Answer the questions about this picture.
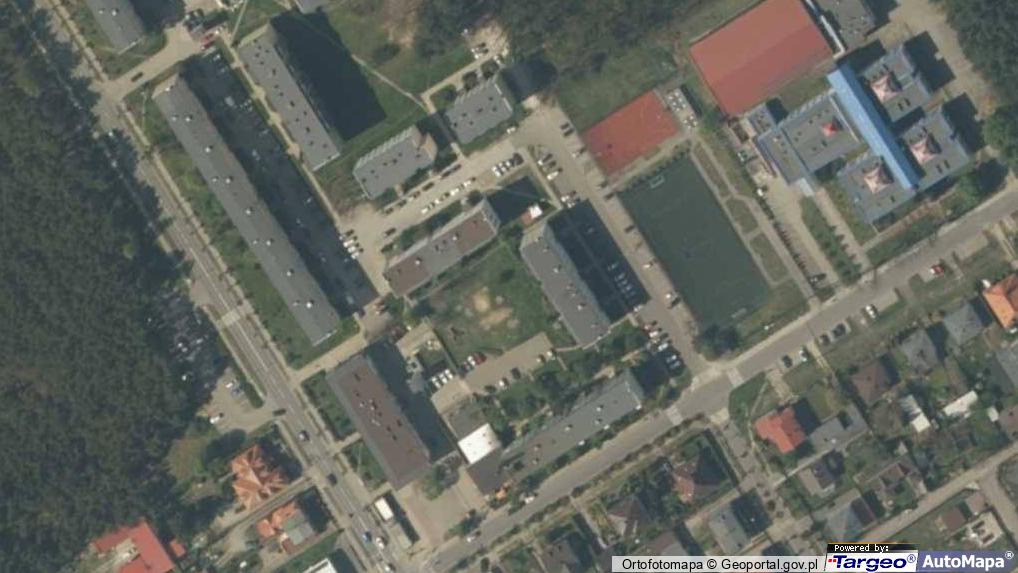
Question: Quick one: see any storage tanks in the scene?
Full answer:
No, there's no storage tank here.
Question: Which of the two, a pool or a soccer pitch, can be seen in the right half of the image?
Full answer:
Looking in the right half of the image, you will find a soccer pitch.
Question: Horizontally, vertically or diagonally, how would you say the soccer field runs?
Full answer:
What the image shows is the soccer field lying diagonally.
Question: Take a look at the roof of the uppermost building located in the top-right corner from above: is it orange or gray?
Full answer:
The roof of the uppermost building located in the top-right corner is gray.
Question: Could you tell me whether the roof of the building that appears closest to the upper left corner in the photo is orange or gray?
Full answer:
The roof of the building that appears closest to the upper left corner looks gray in the image.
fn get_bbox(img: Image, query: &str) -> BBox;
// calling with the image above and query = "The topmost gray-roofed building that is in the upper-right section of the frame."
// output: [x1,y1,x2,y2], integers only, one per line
[818,0,878,45]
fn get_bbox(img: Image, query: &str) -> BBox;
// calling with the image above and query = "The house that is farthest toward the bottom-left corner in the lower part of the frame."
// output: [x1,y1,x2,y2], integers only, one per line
[92,518,175,573]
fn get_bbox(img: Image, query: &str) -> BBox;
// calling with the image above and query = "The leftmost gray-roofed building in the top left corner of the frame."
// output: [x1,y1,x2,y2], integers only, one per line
[85,0,149,52]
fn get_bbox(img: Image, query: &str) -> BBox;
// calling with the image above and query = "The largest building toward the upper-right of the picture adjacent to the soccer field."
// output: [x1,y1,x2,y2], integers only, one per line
[749,40,972,222]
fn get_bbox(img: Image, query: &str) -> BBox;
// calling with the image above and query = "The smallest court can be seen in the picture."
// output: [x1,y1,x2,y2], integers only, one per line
[582,90,681,177]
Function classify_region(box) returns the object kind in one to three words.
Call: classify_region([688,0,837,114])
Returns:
sports court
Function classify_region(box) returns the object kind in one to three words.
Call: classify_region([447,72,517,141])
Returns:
building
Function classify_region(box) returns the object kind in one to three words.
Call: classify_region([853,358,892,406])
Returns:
house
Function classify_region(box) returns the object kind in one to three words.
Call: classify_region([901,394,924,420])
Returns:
shed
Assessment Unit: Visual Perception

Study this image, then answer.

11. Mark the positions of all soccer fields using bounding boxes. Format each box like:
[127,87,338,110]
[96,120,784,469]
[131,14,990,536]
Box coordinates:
[620,148,777,334]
